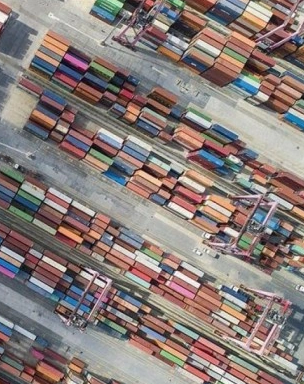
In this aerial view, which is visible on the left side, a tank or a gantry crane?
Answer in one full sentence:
The feature located on the left side is a gantry crane.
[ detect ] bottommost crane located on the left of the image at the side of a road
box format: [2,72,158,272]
[52,264,118,339]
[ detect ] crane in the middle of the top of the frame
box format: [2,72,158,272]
[108,0,169,52]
